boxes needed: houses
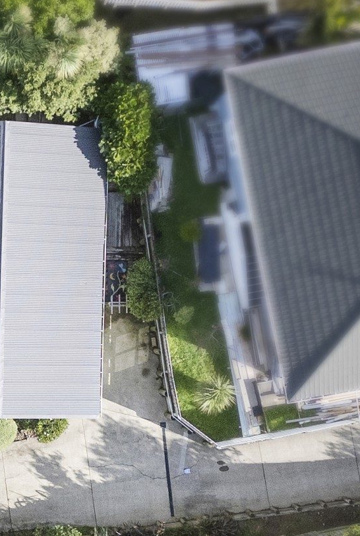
[0,118,108,421]
[202,36,360,412]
